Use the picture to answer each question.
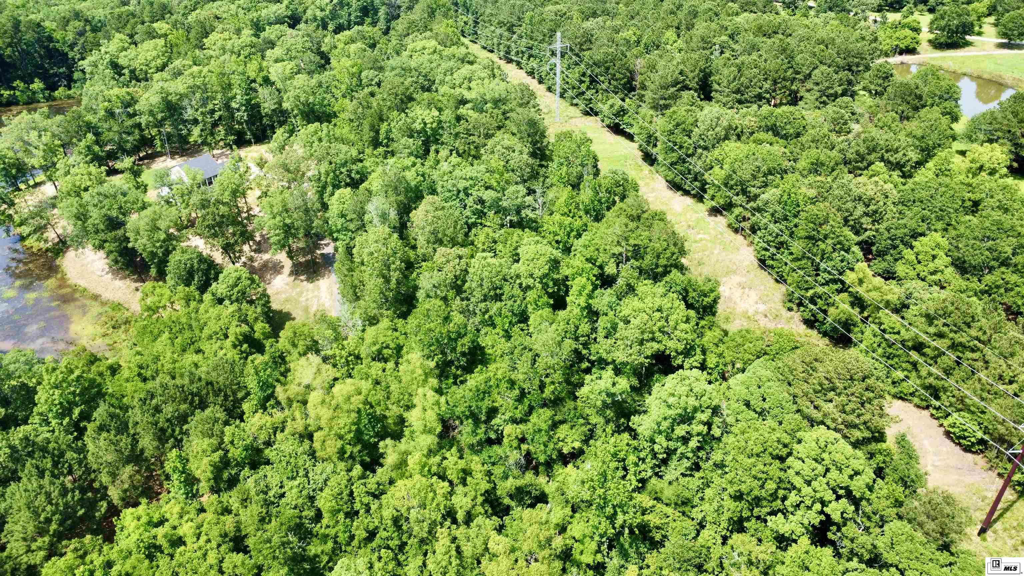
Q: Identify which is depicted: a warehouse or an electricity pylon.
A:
electricity pylon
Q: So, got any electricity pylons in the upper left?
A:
No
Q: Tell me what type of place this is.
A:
forest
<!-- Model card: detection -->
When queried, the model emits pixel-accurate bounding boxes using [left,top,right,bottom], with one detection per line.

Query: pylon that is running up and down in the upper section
[547,32,571,123]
